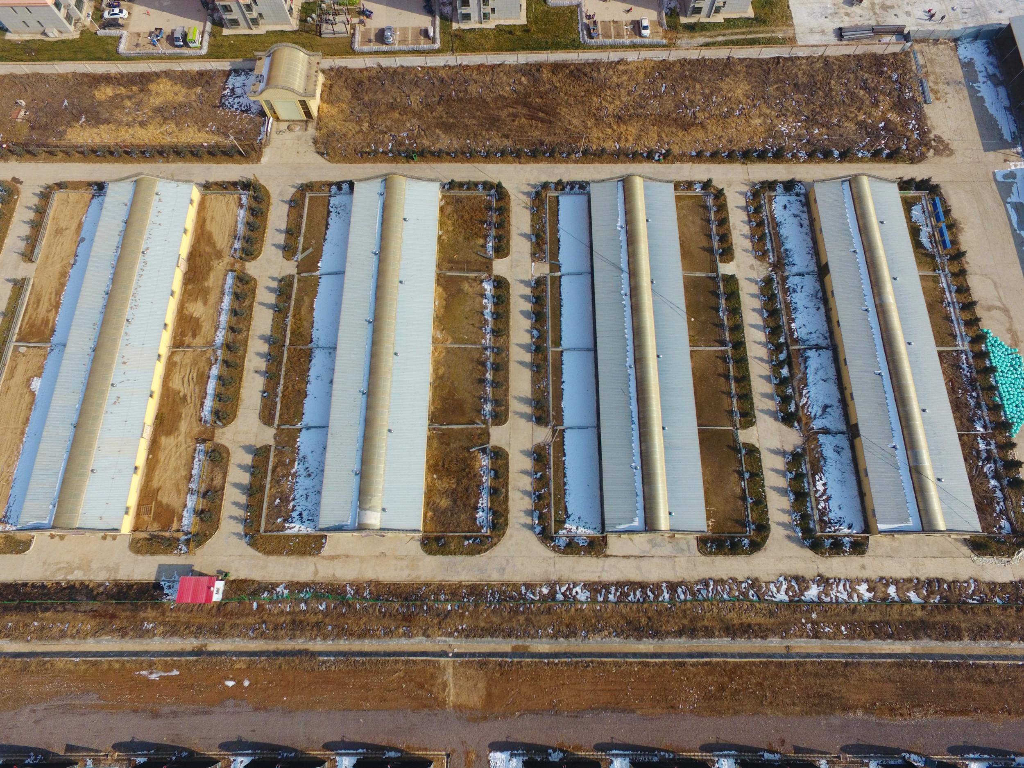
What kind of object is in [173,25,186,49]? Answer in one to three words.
vehicle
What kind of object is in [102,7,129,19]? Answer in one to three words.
vehicle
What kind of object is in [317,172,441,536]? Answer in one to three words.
barn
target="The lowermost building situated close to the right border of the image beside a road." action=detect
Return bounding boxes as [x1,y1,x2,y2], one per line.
[805,172,986,536]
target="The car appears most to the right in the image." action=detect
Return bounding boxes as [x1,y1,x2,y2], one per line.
[638,17,651,38]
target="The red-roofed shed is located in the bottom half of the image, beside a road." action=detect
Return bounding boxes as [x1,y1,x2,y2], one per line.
[177,575,223,603]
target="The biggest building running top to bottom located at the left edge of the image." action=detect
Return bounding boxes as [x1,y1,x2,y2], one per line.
[15,172,200,536]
